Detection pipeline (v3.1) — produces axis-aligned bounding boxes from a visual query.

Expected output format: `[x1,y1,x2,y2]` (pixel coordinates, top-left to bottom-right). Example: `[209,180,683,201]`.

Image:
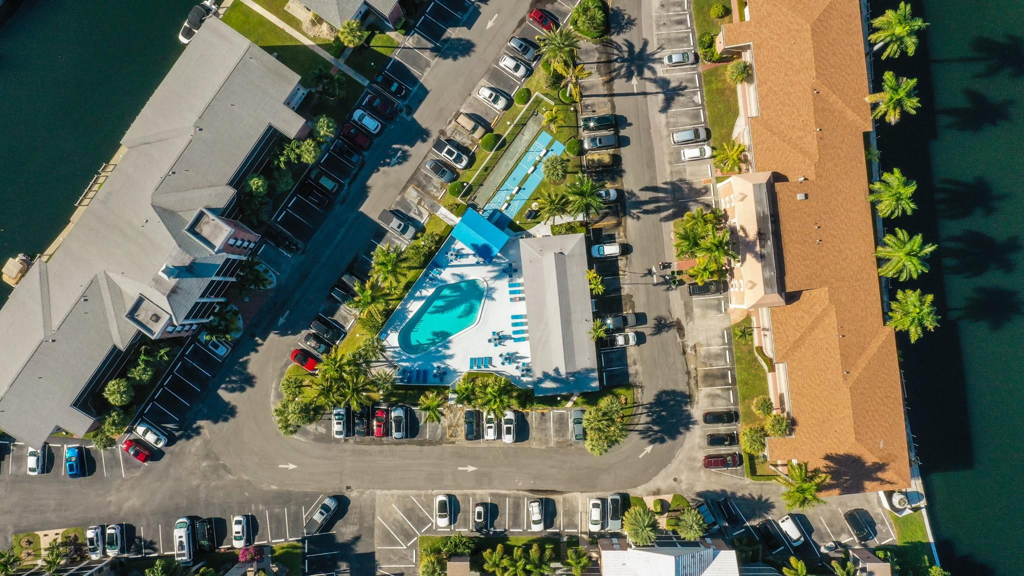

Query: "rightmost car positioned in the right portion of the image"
[845,508,869,542]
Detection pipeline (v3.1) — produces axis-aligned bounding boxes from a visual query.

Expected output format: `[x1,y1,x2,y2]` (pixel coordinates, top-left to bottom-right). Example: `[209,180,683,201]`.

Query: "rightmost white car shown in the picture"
[775,511,803,547]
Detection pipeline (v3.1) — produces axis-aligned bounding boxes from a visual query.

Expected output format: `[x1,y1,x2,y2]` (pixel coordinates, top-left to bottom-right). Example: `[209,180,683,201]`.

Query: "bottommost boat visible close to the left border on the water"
[0,253,31,287]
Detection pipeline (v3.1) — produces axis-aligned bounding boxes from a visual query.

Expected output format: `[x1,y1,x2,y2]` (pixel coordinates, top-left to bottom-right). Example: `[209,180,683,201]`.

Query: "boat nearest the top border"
[182,0,219,46]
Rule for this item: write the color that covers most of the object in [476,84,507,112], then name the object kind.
white car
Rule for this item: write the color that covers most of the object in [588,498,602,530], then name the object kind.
white car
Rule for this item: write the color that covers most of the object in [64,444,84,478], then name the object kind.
blue car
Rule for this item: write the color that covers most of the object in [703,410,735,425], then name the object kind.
black car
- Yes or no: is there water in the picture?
Yes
